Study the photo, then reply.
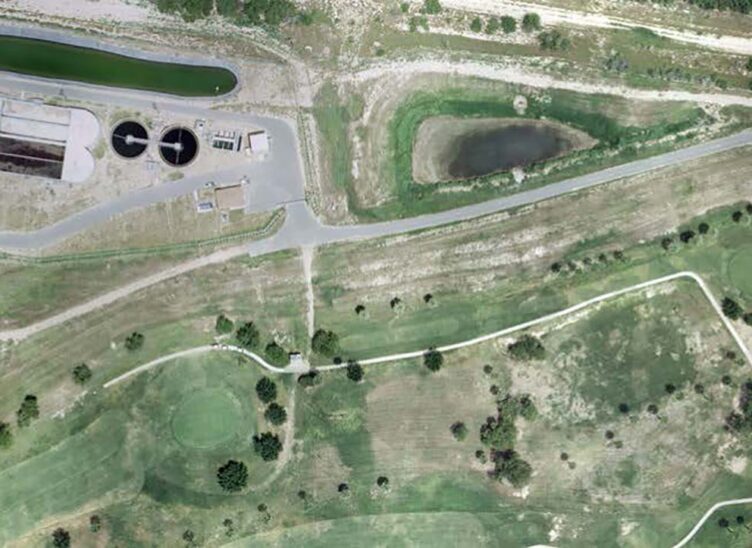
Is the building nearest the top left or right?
left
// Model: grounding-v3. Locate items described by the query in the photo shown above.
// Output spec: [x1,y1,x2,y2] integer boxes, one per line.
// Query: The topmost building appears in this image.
[248,131,269,152]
